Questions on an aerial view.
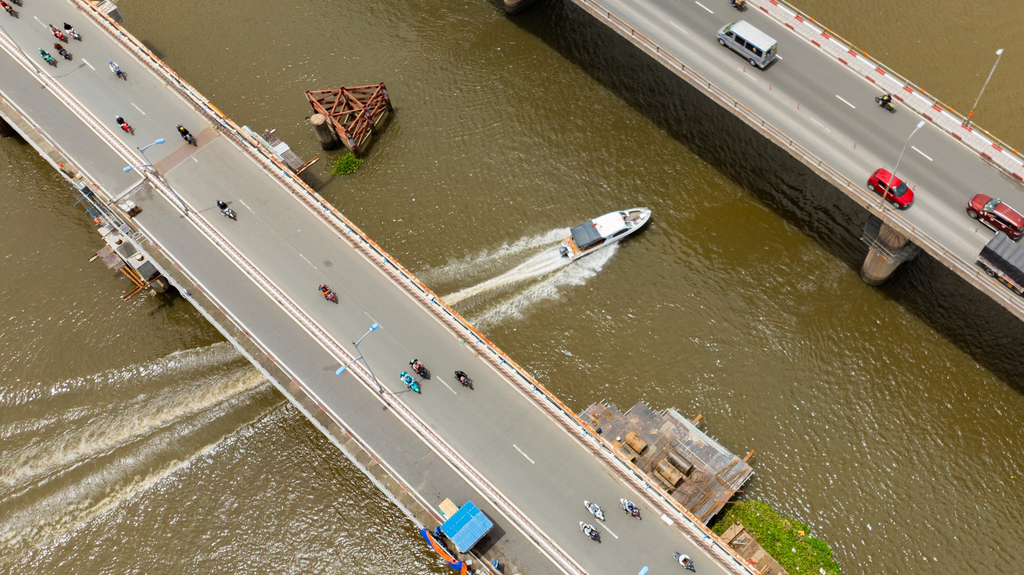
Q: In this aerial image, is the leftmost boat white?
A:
Yes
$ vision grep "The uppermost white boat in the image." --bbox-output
[560,206,649,262]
